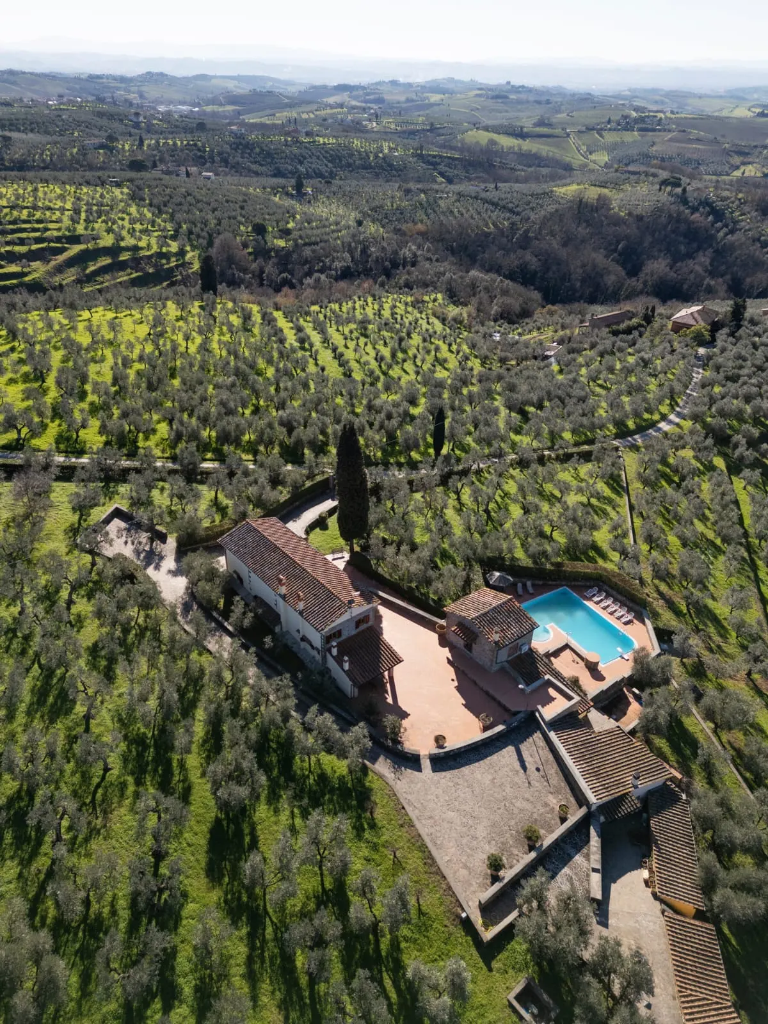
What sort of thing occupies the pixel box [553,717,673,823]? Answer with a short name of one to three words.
barn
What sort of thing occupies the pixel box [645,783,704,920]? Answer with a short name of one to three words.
shed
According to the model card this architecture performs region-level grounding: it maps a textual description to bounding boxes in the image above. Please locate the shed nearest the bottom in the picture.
[661,912,738,1024]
